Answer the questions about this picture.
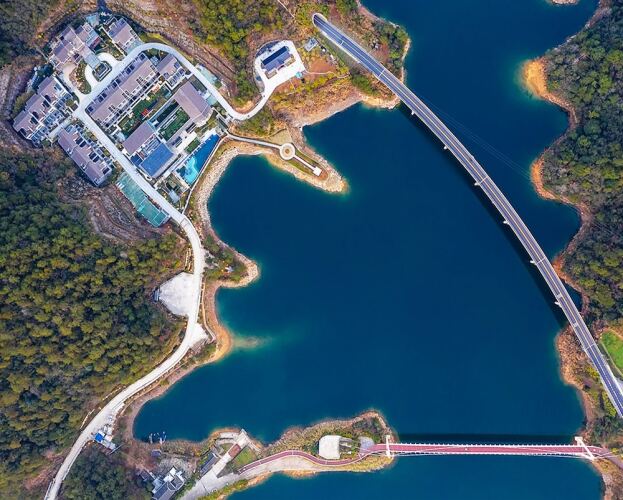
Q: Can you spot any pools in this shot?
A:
Yes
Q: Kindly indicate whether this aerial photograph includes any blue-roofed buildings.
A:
Yes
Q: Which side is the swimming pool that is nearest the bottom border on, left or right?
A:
left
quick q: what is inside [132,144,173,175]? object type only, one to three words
building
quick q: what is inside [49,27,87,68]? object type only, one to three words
house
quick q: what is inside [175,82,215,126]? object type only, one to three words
building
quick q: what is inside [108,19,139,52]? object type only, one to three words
house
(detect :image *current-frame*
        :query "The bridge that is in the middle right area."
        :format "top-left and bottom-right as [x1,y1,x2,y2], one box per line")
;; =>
[306,7,623,424]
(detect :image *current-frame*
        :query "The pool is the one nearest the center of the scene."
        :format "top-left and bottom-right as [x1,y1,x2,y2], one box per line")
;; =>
[178,133,222,186]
